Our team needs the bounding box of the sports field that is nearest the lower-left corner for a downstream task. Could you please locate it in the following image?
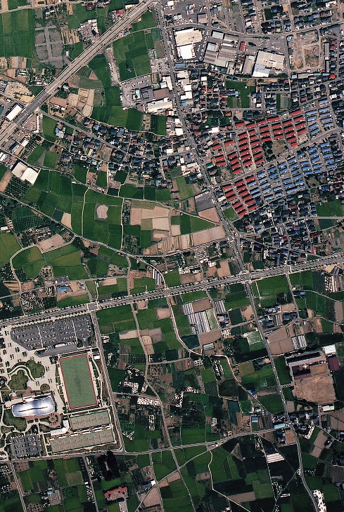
[58,351,99,412]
